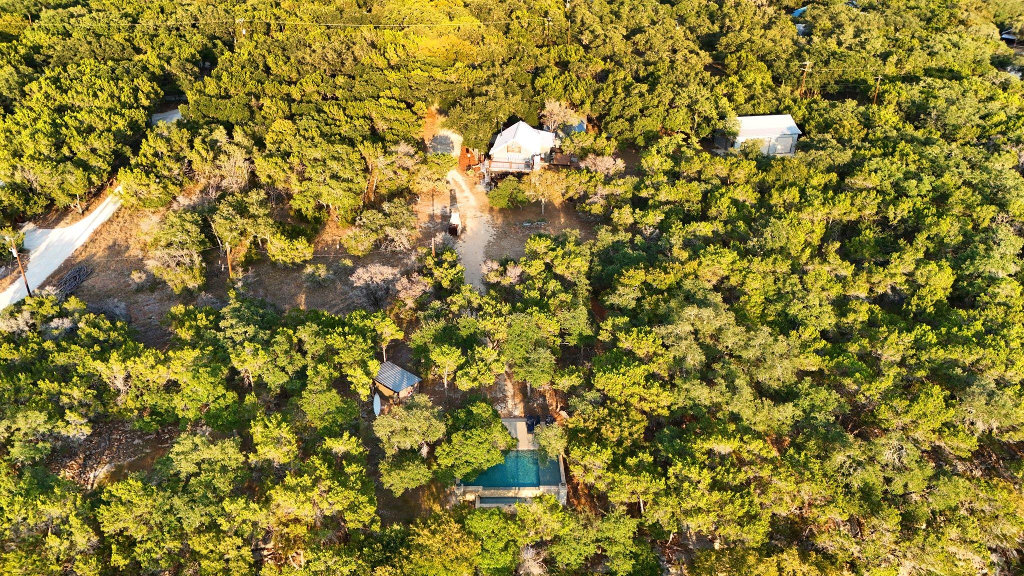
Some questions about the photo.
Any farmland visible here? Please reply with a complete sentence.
No, the scene doesn't show any farmland.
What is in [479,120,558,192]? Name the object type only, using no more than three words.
house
